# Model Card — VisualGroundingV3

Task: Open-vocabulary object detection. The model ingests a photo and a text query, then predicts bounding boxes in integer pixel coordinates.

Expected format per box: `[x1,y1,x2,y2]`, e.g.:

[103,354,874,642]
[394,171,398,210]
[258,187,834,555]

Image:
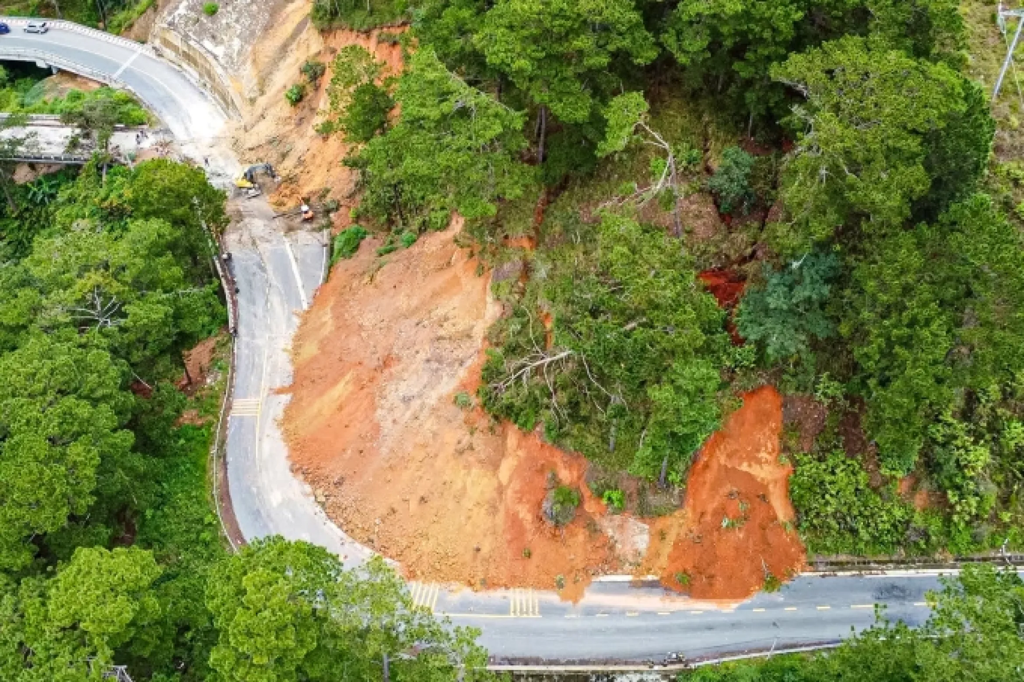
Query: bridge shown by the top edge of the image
[0,21,149,94]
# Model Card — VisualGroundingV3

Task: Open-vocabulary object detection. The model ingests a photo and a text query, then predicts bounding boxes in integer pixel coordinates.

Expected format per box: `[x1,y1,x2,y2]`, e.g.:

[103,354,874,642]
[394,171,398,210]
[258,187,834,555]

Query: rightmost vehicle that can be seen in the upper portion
[297,193,314,222]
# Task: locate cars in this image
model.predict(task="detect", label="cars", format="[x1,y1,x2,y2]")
[0,23,11,36]
[17,19,50,36]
